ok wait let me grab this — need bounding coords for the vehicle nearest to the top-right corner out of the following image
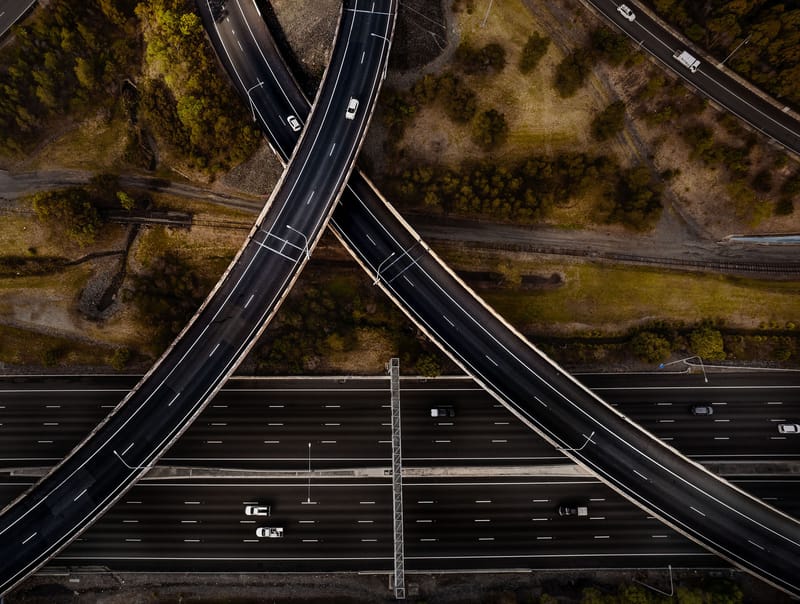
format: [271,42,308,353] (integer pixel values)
[672,45,702,71]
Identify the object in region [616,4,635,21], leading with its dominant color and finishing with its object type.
white car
